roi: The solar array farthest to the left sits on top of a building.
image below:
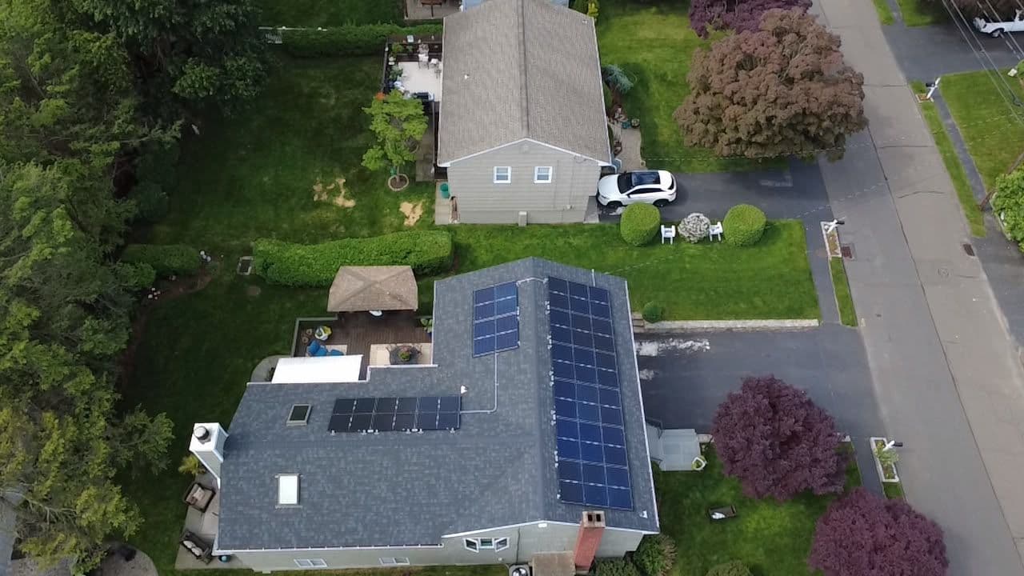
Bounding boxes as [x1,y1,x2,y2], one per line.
[329,395,462,435]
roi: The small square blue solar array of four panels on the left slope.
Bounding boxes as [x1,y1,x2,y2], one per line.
[471,279,523,354]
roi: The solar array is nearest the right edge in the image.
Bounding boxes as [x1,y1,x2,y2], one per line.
[545,276,635,509]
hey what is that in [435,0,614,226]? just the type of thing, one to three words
house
